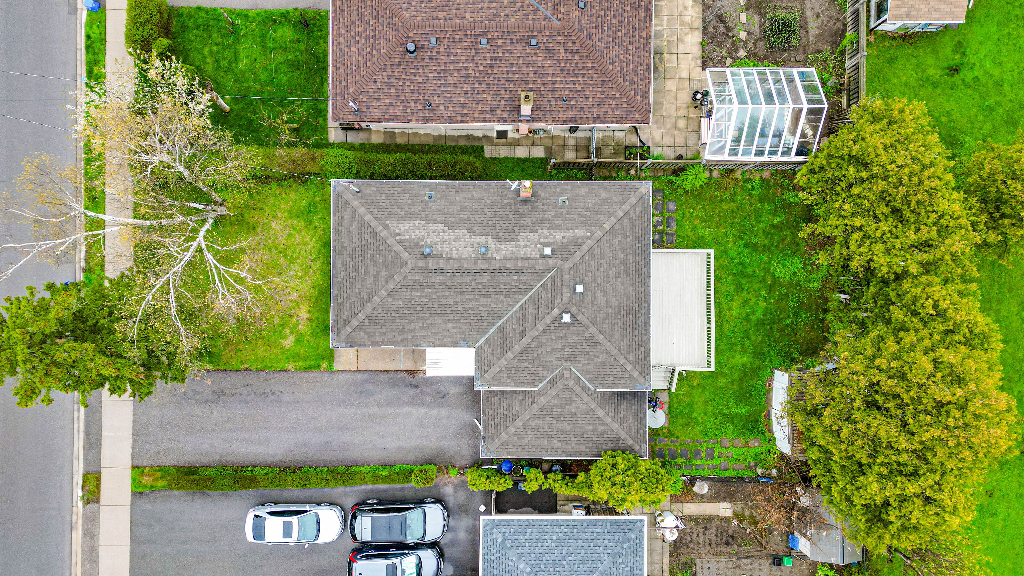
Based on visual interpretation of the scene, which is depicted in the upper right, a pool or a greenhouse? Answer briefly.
greenhouse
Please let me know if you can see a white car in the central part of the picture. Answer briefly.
No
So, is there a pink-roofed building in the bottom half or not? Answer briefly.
No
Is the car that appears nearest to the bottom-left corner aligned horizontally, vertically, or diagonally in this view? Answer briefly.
horizontally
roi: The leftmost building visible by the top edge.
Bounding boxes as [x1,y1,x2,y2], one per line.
[331,0,653,130]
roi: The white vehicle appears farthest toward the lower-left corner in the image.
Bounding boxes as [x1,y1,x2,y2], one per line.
[245,500,346,551]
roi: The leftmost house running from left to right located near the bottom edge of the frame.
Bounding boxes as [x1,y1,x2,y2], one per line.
[481,506,648,576]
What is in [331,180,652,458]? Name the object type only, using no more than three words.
house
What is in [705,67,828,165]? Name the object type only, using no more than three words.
greenhouse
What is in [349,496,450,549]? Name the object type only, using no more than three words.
car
